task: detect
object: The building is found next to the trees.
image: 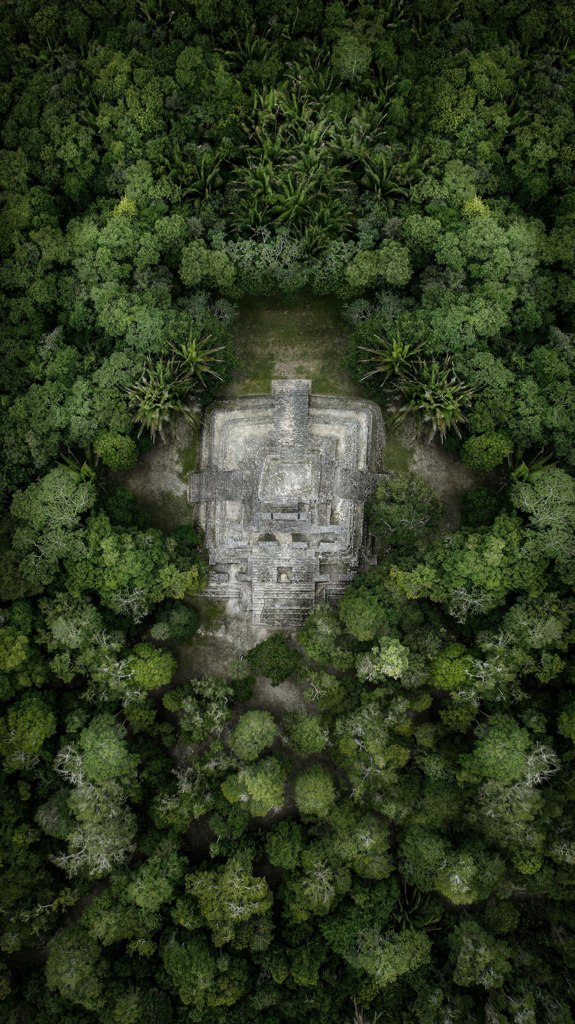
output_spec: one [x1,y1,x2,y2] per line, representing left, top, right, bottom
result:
[189,378,391,630]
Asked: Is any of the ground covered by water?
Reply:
No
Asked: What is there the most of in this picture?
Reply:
trees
